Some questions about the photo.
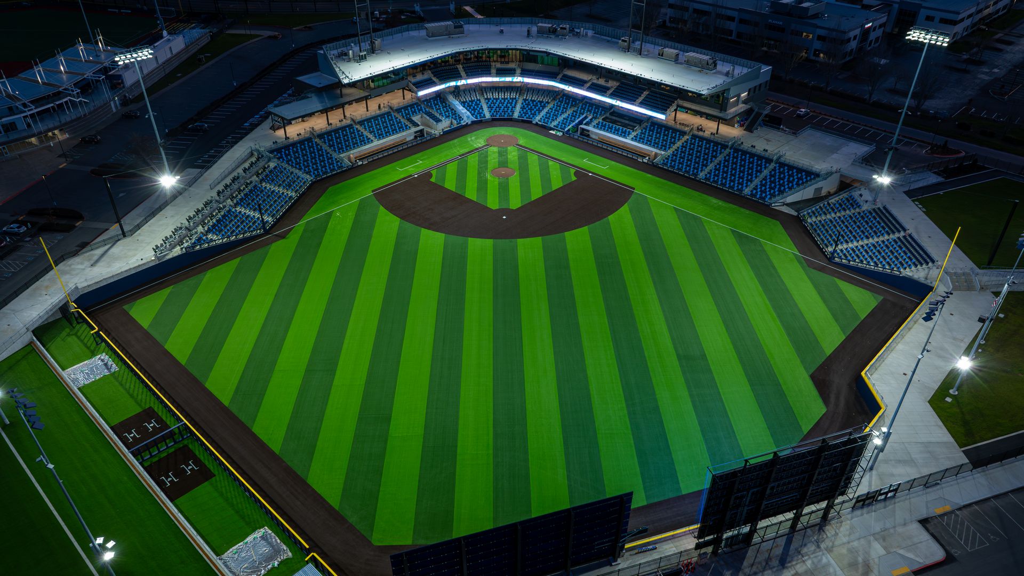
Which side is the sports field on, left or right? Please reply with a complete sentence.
The sports field is on the left side of the image.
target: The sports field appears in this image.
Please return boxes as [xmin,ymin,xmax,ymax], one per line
[0,12,154,61]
